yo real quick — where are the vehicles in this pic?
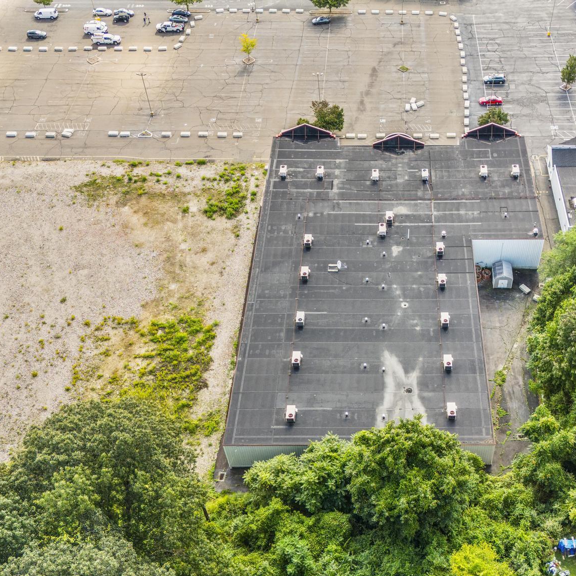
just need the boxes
[83,22,108,35]
[26,29,47,39]
[112,11,131,22]
[311,16,332,26]
[112,8,134,16]
[484,73,506,84]
[91,8,113,16]
[35,8,58,20]
[478,97,503,107]
[91,32,119,44]
[171,9,192,18]
[168,15,189,24]
[84,19,108,26]
[158,21,183,32]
